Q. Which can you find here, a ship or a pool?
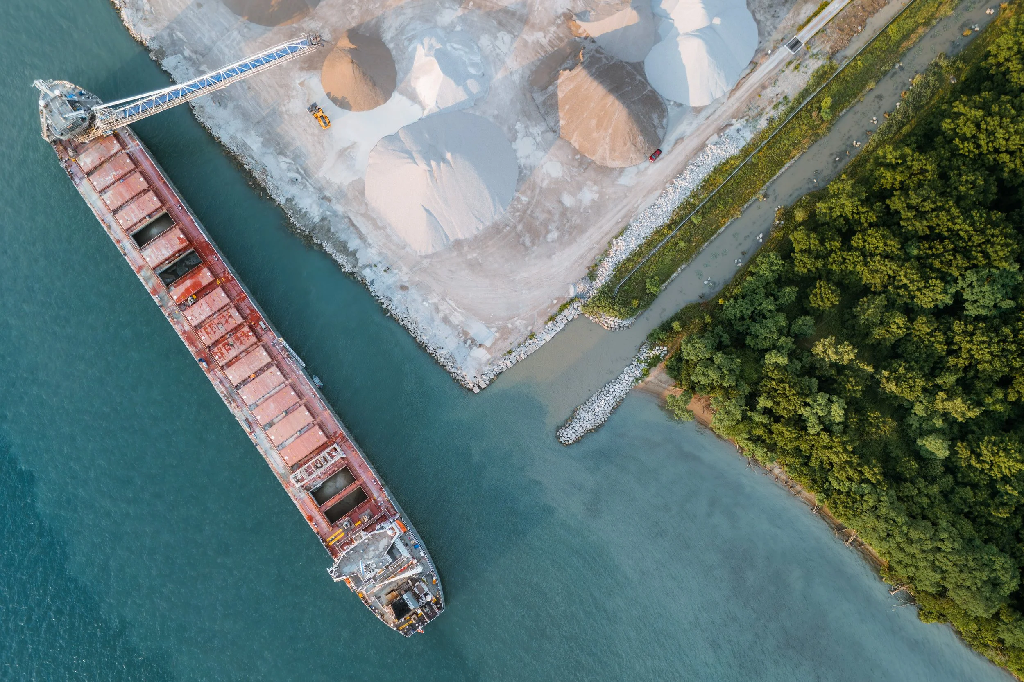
ship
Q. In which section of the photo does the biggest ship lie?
left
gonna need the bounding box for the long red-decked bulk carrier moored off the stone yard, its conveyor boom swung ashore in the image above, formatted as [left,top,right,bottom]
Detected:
[32,30,445,639]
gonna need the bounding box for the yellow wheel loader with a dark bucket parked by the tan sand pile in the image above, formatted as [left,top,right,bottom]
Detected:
[306,101,329,129]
